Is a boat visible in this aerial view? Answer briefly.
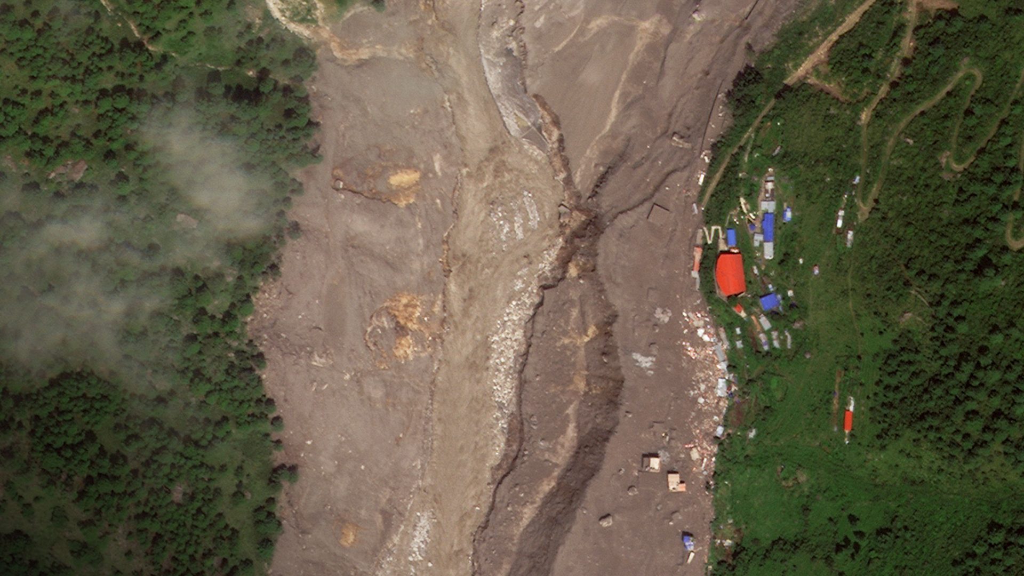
No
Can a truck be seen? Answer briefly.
No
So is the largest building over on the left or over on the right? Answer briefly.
right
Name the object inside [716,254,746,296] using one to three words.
building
